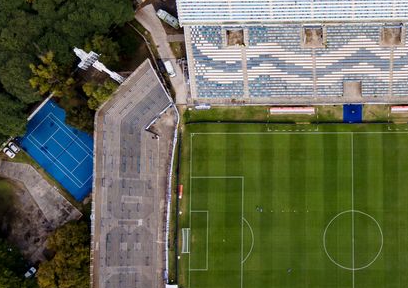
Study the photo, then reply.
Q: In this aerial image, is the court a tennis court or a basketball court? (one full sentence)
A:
From above, the court can be identified as a tennis court.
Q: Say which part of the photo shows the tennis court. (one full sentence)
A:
The tennis court is located in the left region of the scene.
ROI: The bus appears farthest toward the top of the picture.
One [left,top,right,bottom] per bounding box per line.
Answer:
[156,9,182,33]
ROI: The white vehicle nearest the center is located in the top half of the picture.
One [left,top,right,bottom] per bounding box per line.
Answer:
[163,59,175,77]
